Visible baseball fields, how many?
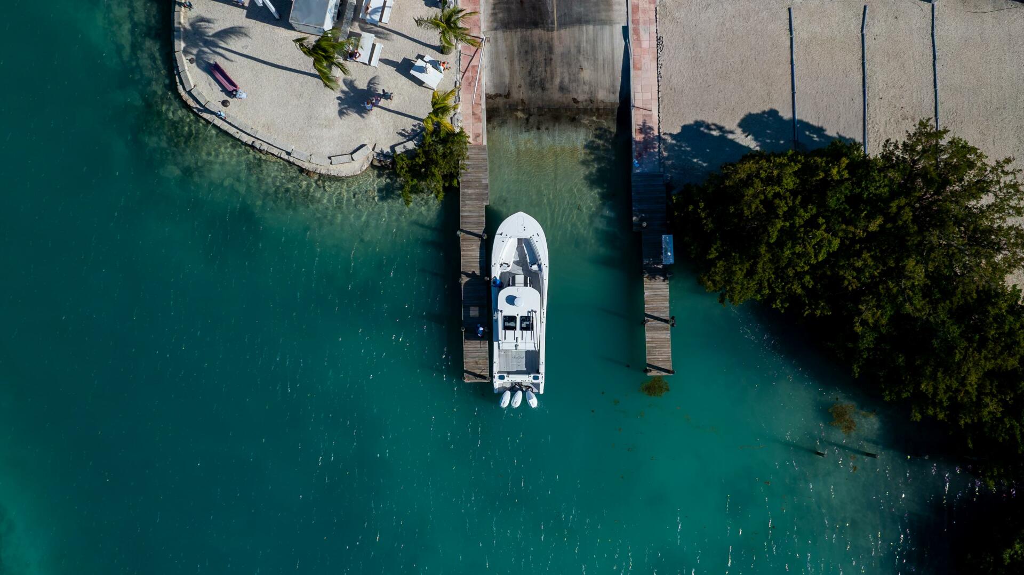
0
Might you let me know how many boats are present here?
1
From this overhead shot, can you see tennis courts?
No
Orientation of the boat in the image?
from top to bottom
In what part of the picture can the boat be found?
center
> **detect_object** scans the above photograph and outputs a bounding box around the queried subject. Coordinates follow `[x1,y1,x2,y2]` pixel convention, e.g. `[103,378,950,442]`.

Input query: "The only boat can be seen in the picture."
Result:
[491,211,549,408]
